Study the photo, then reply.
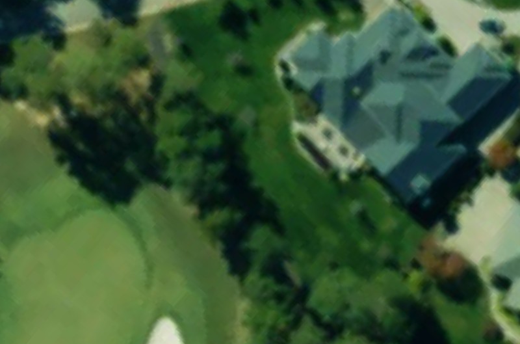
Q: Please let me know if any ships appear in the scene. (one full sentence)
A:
No, the scene contains no ship.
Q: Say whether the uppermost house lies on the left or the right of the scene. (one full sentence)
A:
It is on the right.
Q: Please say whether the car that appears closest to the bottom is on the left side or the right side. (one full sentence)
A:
You can find the car that appears closest to the bottom on the right side of the picture.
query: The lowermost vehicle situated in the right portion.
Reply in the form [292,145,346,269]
[476,15,507,37]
